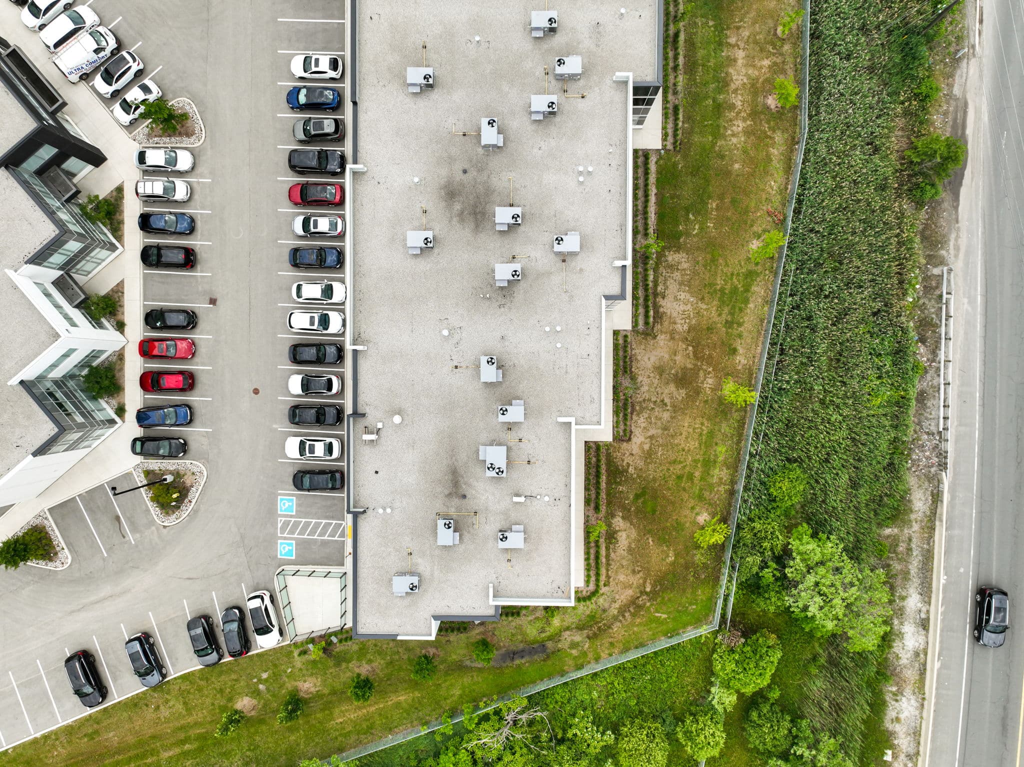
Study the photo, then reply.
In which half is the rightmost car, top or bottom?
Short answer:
bottom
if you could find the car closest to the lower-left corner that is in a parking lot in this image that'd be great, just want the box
[64,651,106,709]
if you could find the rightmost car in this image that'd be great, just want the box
[977,589,1012,646]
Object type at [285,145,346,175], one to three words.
car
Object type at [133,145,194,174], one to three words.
car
